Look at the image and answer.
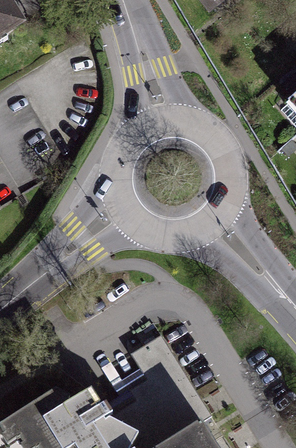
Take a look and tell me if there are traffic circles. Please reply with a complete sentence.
Yes, looking at the shot, I can spot a traffic circle.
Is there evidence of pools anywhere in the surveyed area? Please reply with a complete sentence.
No, I find no pool anywhere in the image.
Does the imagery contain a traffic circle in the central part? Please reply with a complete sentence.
Yes, looking in the central part, one can make out a traffic circle.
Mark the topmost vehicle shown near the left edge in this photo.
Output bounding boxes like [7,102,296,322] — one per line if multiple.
[9,98,30,112]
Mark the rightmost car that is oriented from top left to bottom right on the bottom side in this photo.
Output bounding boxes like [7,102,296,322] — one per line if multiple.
[115,352,132,372]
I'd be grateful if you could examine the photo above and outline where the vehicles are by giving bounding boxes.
[93,350,120,385]
[62,122,82,141]
[68,112,89,128]
[107,283,130,301]
[53,134,71,156]
[192,372,214,388]
[9,98,30,112]
[73,100,94,113]
[255,358,277,374]
[32,141,51,156]
[187,360,208,376]
[166,326,189,342]
[262,368,283,384]
[84,302,106,319]
[72,60,94,71]
[115,352,132,372]
[27,131,48,146]
[112,3,124,25]
[179,349,200,366]
[96,179,114,200]
[76,88,98,98]
[174,336,194,353]
[247,350,269,366]
[275,394,296,410]
[210,186,228,207]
